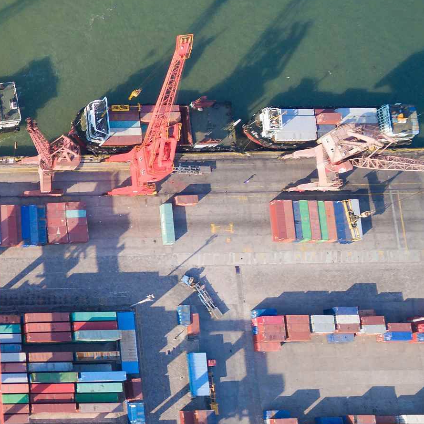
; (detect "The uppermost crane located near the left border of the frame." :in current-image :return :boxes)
[0,114,86,197]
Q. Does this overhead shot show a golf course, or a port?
port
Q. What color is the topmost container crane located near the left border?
pink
